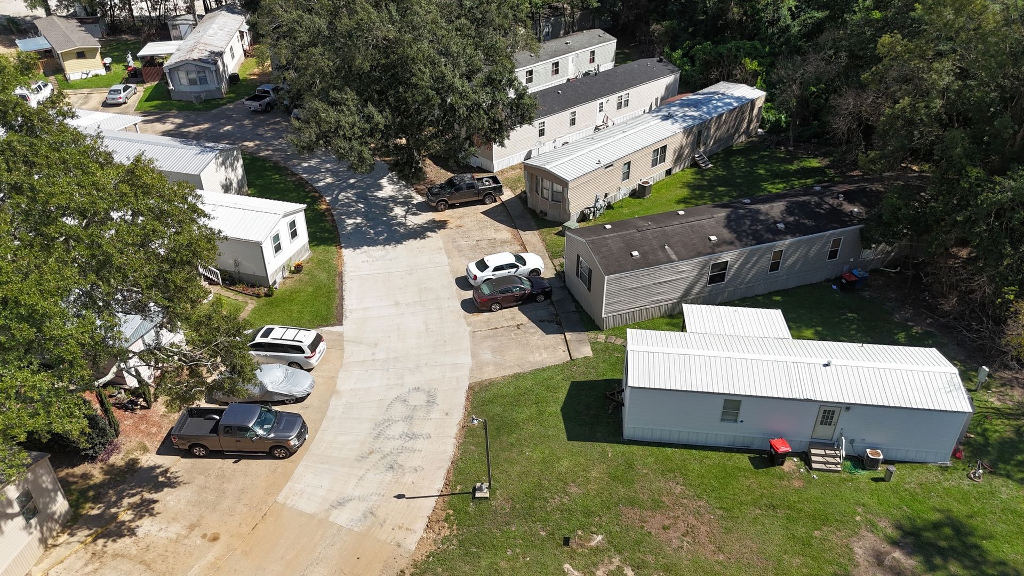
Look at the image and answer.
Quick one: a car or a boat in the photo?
car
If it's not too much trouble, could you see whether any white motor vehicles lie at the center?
Yes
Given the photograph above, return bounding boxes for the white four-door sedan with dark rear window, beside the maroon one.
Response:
[465,248,547,282]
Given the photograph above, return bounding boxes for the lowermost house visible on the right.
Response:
[599,326,977,463]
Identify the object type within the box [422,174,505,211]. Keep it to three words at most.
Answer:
truck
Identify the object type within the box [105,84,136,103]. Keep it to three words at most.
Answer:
car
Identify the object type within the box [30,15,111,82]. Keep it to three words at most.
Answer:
house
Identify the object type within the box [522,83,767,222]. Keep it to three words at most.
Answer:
house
